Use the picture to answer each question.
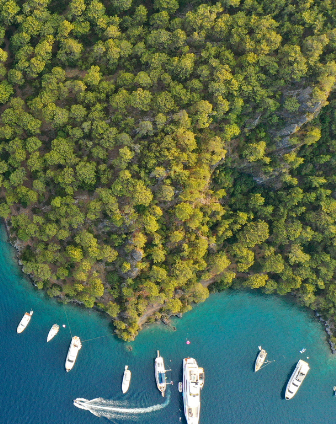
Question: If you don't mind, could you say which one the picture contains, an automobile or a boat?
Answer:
boat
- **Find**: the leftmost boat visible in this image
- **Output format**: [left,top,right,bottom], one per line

[18,311,32,332]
